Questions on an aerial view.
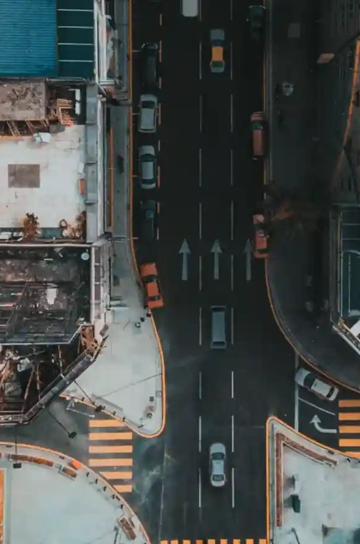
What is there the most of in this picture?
paved ground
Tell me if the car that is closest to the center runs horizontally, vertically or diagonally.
vertically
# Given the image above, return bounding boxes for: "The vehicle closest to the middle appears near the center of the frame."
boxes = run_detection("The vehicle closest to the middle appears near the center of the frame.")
[140,262,163,308]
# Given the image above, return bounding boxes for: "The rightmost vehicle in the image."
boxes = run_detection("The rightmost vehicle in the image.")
[295,369,339,402]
